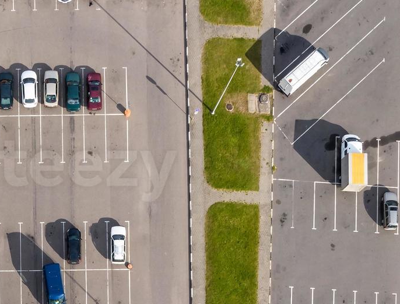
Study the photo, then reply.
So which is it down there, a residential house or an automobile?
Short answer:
automobile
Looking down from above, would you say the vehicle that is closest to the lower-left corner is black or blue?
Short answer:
blue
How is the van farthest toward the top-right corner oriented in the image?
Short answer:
on a diagonal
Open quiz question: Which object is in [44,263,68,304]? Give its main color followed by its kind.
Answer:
blue vehicle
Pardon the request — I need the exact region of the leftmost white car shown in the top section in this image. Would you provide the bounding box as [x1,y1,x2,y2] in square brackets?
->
[20,72,38,108]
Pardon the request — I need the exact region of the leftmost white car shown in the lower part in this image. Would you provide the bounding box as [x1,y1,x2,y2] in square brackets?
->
[109,227,127,264]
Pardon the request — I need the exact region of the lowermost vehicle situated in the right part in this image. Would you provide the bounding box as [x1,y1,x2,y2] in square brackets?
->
[381,192,400,230]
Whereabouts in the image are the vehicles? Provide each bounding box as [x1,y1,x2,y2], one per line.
[65,73,83,112]
[381,192,400,230]
[109,227,127,264]
[42,72,60,108]
[20,72,38,108]
[0,73,15,110]
[65,228,84,265]
[339,141,366,198]
[44,263,68,304]
[86,74,104,111]
[279,49,327,95]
